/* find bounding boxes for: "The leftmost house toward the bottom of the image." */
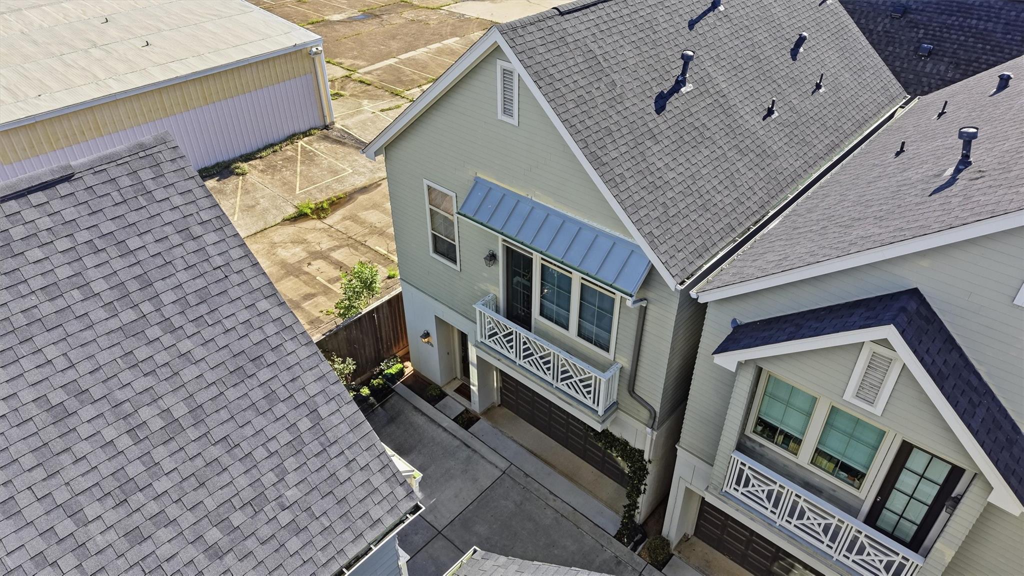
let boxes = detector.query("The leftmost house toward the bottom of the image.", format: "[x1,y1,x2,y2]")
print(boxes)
[0,130,433,576]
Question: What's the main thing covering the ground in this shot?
buildings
